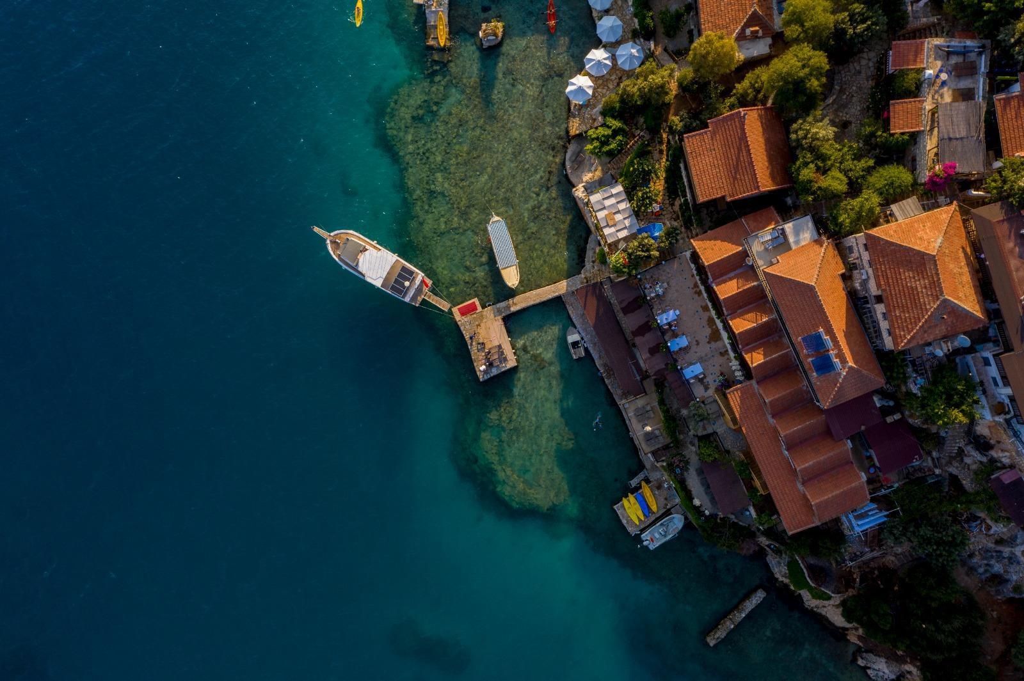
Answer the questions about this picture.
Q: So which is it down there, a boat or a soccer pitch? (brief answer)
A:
boat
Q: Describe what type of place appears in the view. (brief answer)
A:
residential area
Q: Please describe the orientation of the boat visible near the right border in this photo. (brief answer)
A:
horizontally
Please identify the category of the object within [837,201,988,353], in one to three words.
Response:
house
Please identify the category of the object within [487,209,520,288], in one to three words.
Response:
boat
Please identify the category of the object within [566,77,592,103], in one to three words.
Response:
umbrella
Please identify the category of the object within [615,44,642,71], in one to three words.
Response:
umbrella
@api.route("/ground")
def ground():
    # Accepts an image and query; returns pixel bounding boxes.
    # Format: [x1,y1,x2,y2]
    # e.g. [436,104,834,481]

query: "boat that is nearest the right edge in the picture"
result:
[938,44,990,65]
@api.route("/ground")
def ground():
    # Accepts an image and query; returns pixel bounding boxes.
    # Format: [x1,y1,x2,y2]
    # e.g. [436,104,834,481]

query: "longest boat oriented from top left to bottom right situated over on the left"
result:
[311,226,432,306]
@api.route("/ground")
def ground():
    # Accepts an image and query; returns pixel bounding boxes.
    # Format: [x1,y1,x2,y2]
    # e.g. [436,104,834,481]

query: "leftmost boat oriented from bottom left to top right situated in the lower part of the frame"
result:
[641,514,687,553]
